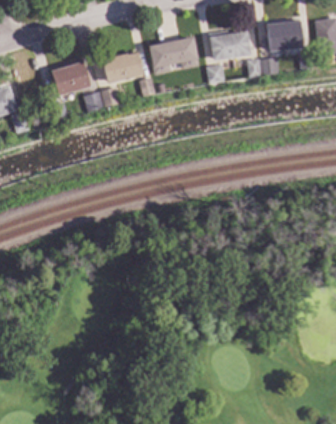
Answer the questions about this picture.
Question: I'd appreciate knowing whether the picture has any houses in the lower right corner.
No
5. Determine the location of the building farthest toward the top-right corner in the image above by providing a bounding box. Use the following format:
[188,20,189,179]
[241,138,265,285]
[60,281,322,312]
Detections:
[314,18,336,54]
